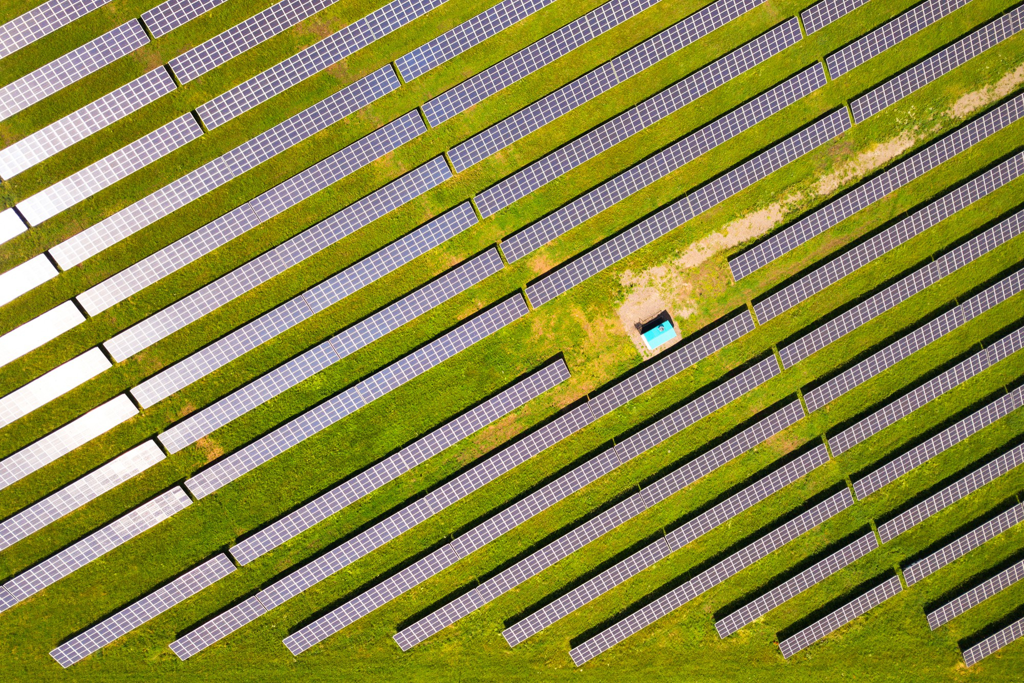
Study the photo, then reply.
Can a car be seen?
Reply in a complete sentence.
No, I can't see a single car in this photo.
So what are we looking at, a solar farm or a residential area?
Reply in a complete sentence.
It's a solar farm.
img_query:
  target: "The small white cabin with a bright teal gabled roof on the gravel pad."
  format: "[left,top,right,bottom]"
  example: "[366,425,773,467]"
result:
[640,321,676,349]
